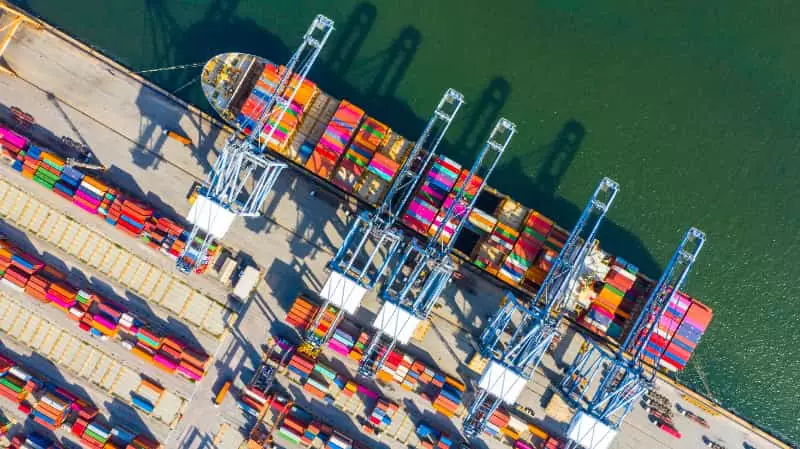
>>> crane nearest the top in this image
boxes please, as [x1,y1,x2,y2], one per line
[0,2,42,75]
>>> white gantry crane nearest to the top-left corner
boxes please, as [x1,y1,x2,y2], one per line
[167,12,333,278]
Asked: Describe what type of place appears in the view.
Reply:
port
